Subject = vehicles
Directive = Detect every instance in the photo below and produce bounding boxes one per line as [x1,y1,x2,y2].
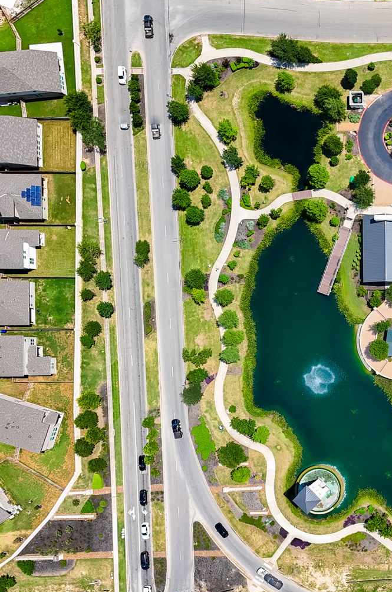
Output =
[138,488,148,505]
[214,521,230,538]
[171,418,182,439]
[144,15,153,37]
[144,584,152,592]
[264,573,283,589]
[120,121,129,132]
[140,551,150,569]
[137,454,147,471]
[254,564,265,575]
[140,521,150,538]
[151,122,160,140]
[117,66,127,85]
